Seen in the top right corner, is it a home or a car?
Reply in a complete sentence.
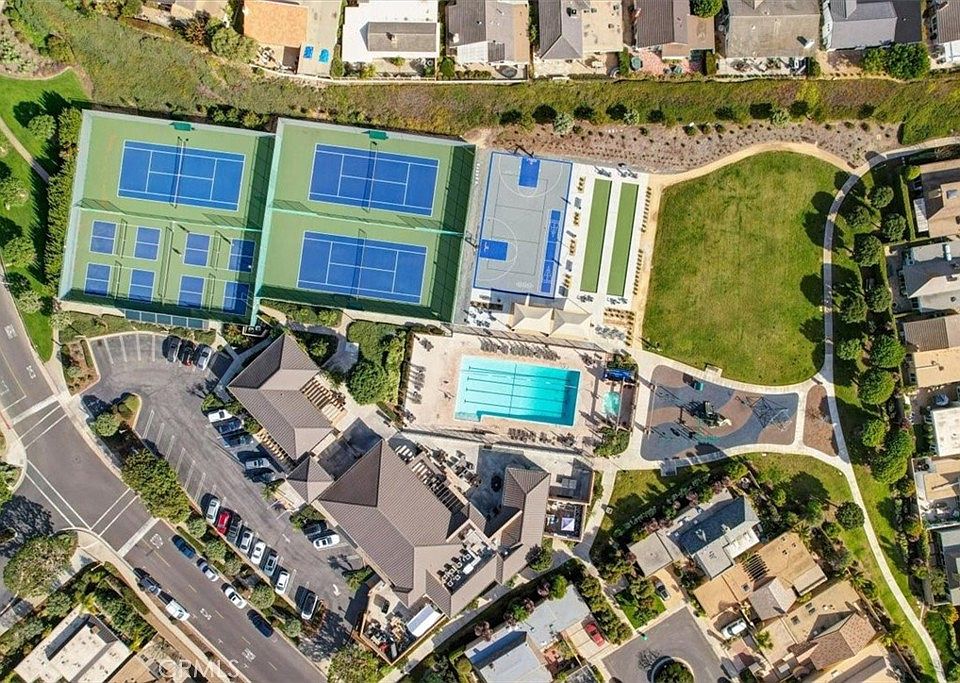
It is a home that can be seen in the top right corner.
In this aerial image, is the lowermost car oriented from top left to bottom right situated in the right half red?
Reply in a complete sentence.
Yes, the lowermost car oriented from top left to bottom right situated in the right half is red.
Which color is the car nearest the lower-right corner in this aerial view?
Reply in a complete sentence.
From above, the car nearest the lower-right corner appears white.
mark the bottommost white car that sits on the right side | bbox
[719,616,746,637]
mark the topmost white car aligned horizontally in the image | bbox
[207,409,233,423]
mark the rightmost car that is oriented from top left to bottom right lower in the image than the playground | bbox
[652,575,672,601]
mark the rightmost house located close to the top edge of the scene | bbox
[931,6,960,63]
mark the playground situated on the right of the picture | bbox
[641,365,800,461]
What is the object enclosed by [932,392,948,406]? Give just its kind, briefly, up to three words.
umbrella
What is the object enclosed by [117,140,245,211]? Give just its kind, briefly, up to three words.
tennis court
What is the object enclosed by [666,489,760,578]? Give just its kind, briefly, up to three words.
house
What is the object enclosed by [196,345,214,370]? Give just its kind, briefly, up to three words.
car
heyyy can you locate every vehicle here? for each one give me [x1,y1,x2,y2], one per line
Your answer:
[159,588,190,616]
[263,550,280,577]
[166,339,183,365]
[300,523,328,540]
[252,540,268,564]
[276,570,292,594]
[215,420,243,433]
[314,533,340,549]
[584,620,605,646]
[205,496,223,524]
[719,616,746,637]
[196,345,214,370]
[207,409,233,423]
[652,575,672,601]
[221,583,246,606]
[181,341,196,367]
[226,434,253,446]
[133,566,164,593]
[216,509,232,535]
[301,589,319,617]
[240,527,256,555]
[248,610,274,634]
[227,519,244,545]
[246,457,272,469]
